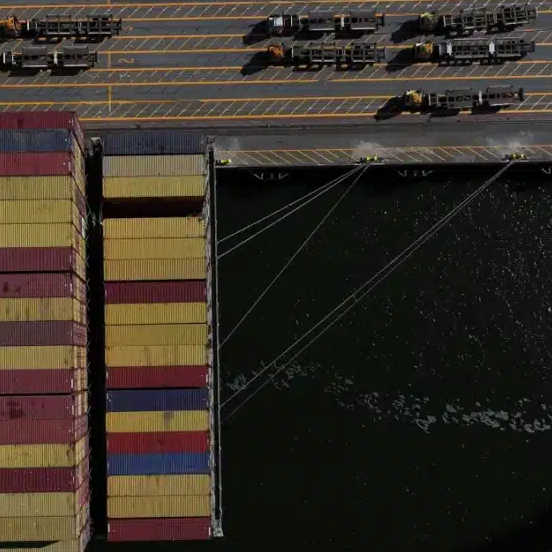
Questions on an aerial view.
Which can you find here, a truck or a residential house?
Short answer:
truck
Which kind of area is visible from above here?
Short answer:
port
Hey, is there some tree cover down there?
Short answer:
No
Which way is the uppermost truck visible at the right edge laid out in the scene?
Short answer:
from left to right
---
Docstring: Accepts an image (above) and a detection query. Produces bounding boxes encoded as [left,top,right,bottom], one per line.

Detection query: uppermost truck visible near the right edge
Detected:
[416,1,536,33]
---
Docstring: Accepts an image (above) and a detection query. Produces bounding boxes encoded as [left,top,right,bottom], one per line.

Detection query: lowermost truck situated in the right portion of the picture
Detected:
[399,83,522,111]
